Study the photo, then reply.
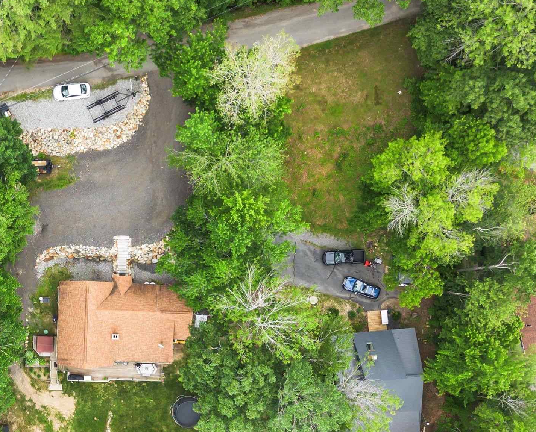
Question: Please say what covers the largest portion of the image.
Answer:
trees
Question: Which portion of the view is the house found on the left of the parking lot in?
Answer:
bottom left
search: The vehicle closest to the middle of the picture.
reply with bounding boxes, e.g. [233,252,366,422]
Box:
[323,247,369,265]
